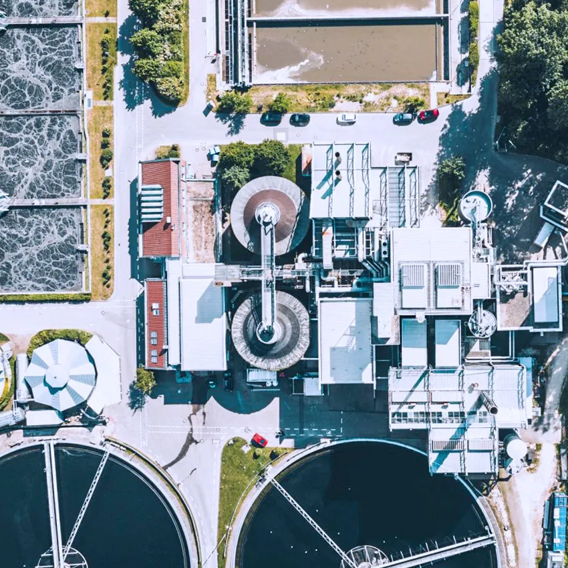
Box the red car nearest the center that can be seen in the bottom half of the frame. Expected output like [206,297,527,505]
[251,434,268,448]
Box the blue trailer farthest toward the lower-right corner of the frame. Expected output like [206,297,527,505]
[550,491,567,552]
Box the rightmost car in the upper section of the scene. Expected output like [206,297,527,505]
[417,110,439,122]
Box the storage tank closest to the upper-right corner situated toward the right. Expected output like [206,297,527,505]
[455,190,493,230]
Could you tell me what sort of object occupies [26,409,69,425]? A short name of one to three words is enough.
shed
